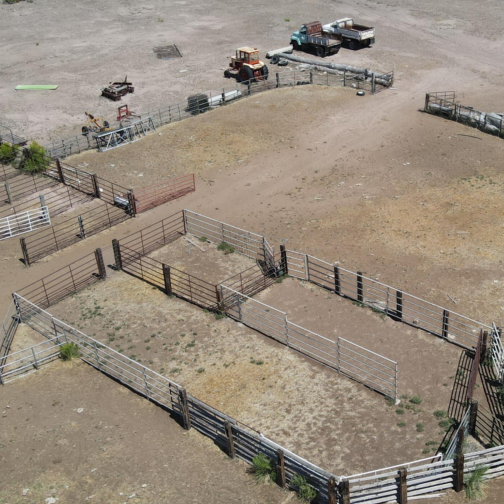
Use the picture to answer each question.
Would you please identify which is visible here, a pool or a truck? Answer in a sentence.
The image shows a truck.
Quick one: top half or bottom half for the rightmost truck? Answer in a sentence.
You can find the rightmost truck in the top half.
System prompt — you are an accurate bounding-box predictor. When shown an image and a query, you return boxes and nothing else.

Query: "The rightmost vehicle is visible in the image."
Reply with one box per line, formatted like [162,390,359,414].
[326,17,379,49]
